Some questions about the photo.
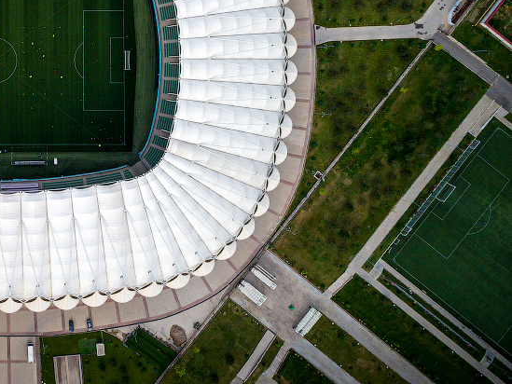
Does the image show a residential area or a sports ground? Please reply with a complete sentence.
This image shows a sports ground.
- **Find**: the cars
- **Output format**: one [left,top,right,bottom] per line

[87,321,92,333]
[69,323,74,334]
